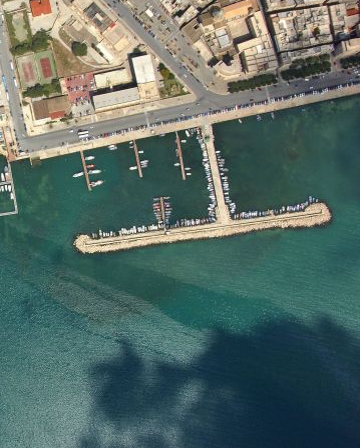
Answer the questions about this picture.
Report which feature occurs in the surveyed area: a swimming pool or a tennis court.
tennis court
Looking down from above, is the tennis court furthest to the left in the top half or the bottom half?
top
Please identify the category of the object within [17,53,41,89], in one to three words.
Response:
tennis court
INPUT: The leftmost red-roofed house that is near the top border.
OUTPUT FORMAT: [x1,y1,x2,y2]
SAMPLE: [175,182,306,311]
[30,0,53,19]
